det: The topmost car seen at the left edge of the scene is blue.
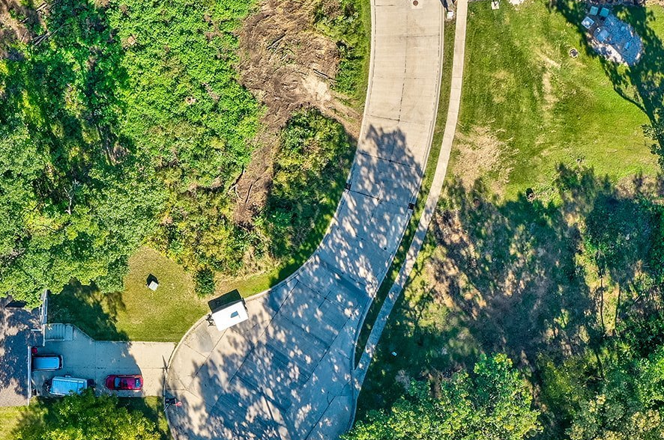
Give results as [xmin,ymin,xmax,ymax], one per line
[30,353,63,372]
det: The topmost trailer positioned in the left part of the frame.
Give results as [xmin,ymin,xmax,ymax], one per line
[208,302,249,330]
